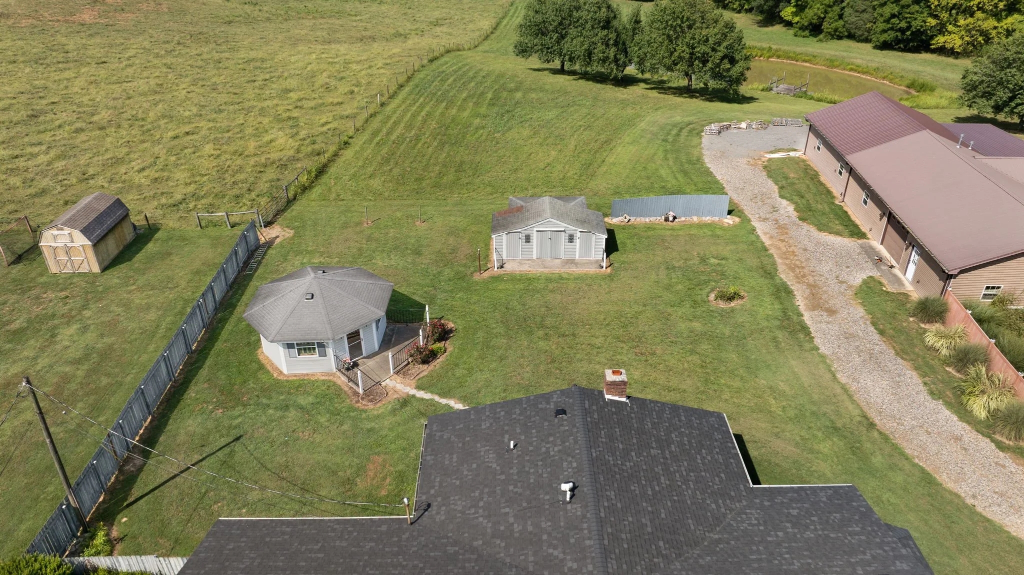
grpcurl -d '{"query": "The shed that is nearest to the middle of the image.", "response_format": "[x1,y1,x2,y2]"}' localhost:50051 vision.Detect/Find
[491,196,607,259]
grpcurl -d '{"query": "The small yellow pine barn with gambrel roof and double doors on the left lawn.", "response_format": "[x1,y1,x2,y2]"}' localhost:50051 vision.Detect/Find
[37,190,133,273]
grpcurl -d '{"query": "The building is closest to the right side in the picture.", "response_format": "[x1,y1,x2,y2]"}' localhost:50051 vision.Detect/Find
[803,90,1024,316]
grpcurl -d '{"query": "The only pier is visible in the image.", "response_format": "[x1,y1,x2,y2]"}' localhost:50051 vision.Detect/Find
[770,69,812,97]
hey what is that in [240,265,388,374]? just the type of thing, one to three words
house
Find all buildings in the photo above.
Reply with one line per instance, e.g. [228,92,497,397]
[182,368,932,575]
[37,190,133,273]
[491,196,607,259]
[240,265,388,374]
[803,90,1024,316]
